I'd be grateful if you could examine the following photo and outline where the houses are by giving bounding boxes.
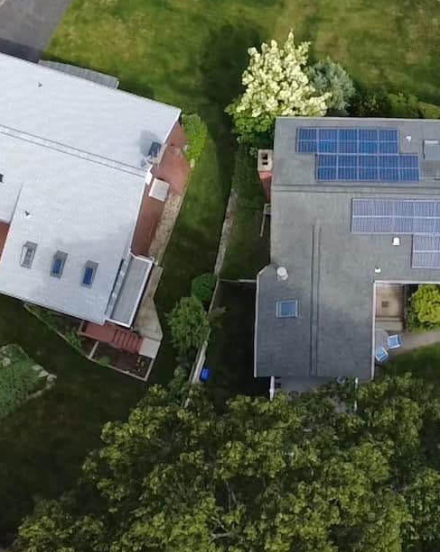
[253,117,440,415]
[0,51,190,362]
